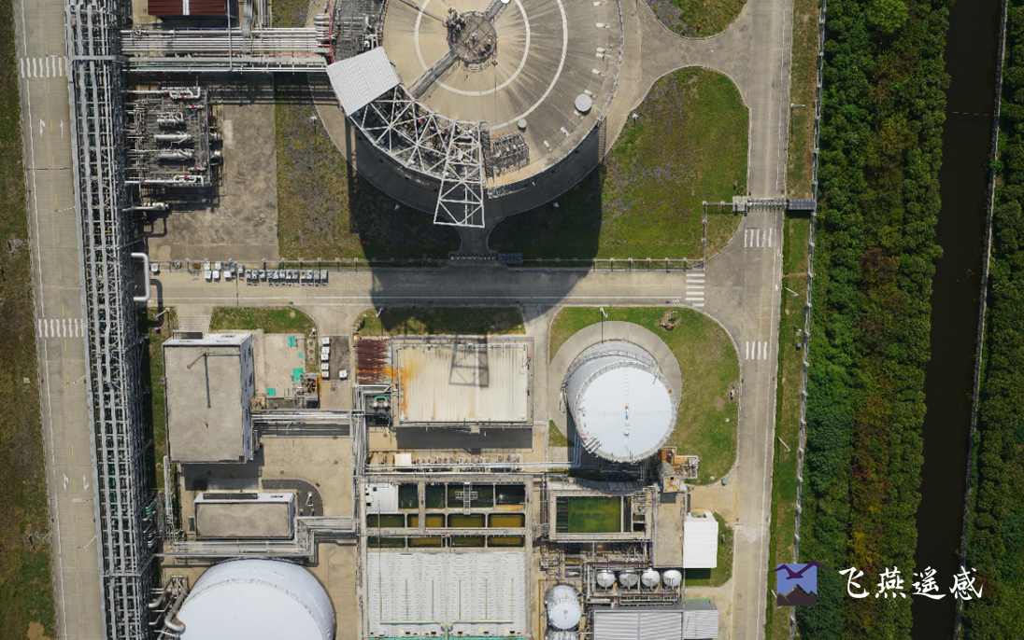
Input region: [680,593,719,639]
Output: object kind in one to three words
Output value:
shed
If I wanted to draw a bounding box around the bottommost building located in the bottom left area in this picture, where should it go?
[188,493,295,538]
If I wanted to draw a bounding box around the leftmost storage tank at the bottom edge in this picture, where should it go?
[168,558,335,640]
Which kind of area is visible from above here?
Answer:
industrial area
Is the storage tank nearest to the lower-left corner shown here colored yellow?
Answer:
No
